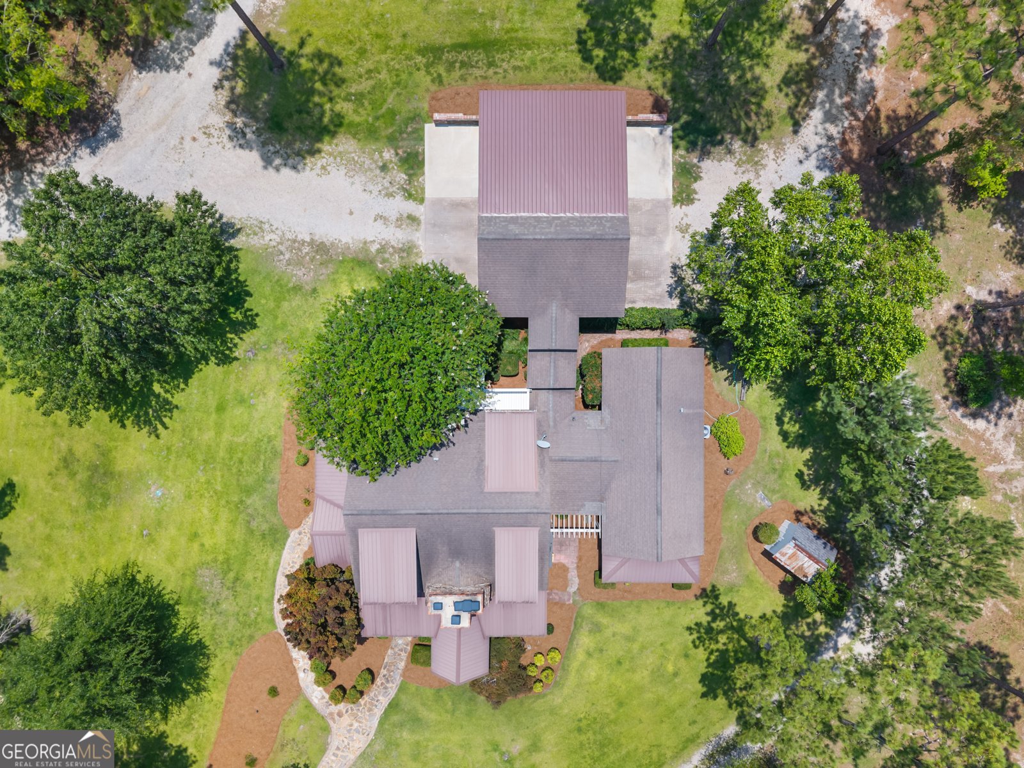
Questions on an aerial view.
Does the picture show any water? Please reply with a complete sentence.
No, no water is visible.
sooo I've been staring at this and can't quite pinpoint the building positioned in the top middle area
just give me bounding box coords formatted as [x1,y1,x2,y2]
[477,90,631,317]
